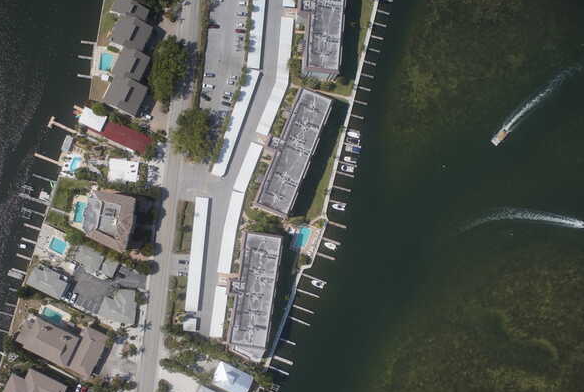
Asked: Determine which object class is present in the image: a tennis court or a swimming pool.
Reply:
swimming pool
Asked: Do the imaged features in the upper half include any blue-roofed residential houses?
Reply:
No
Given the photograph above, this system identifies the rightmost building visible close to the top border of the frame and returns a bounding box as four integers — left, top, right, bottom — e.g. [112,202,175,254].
[298,0,346,80]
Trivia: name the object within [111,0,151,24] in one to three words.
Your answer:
house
